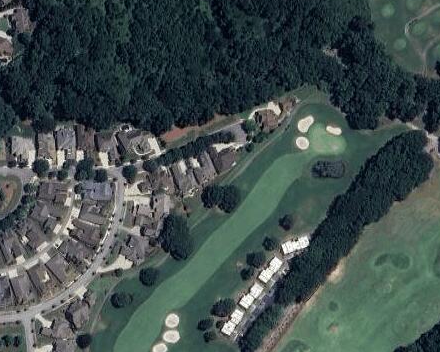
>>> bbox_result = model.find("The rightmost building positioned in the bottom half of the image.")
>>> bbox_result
[281,234,310,253]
